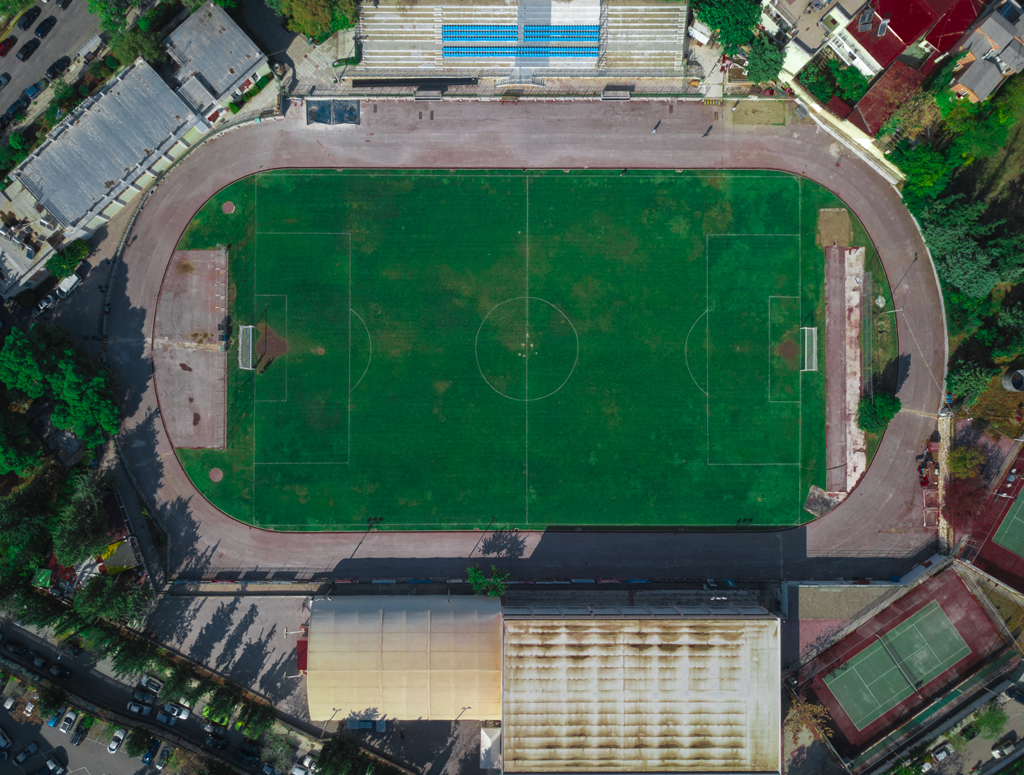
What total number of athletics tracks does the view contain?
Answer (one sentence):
Only 1 athletics track is visible.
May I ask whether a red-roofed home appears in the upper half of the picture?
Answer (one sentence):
Yes, in the upper half of the picture there is a red-roofed home.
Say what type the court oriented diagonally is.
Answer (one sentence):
In the photo, the court oriented diagonally shows up as a tennis court.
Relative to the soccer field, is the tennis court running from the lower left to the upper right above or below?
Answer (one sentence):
The tennis court running from the lower left to the upper right is found below the soccer field in the photo.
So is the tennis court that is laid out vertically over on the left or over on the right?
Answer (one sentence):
It is on the right.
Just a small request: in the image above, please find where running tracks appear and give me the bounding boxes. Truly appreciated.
[104,99,946,581]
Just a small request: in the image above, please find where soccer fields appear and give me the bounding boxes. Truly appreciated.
[152,168,898,532]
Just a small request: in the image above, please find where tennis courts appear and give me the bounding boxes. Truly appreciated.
[796,571,1011,750]
[968,460,1024,593]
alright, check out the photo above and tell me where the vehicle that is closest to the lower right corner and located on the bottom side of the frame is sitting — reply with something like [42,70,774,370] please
[993,742,1017,761]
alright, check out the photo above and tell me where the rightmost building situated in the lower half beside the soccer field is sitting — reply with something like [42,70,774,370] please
[503,600,781,773]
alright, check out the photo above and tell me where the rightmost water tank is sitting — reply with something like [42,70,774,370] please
[988,370,1024,392]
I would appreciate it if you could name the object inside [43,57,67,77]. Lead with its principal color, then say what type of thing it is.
black car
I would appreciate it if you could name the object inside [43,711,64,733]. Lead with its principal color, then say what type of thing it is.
blue car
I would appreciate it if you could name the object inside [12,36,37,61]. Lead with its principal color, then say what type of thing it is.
black car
